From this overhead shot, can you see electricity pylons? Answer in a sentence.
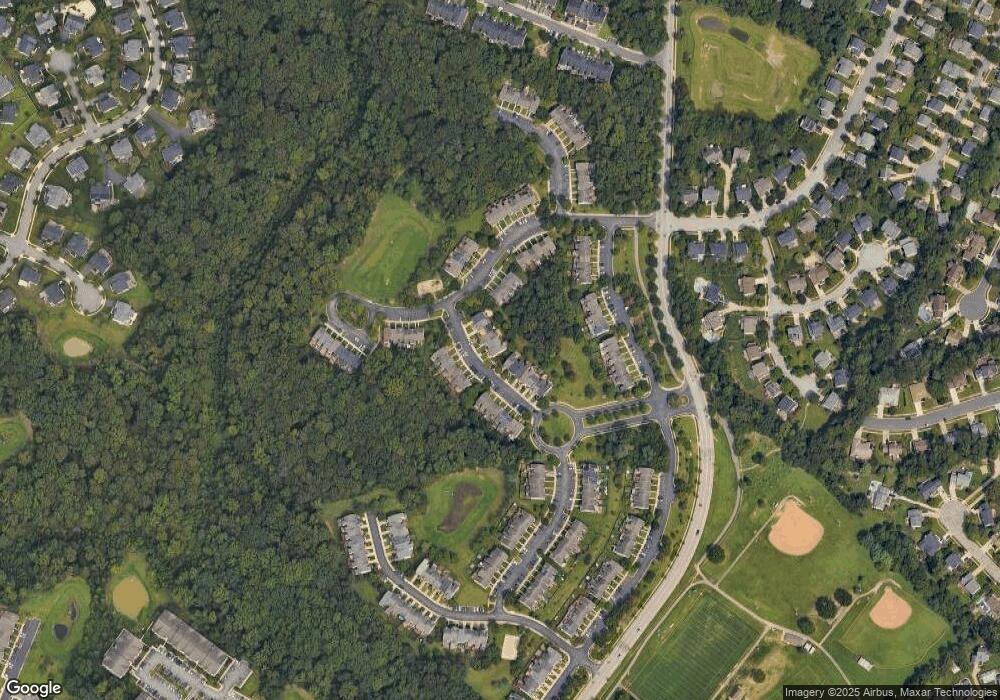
No, no electricity pylon is visible in the view.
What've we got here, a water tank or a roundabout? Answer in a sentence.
It is a roundabout that can be seen here.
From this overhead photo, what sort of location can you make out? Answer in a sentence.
The area seen from above is a residential area.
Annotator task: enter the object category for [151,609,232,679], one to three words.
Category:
building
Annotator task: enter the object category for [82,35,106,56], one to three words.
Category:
house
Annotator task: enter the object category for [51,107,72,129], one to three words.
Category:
house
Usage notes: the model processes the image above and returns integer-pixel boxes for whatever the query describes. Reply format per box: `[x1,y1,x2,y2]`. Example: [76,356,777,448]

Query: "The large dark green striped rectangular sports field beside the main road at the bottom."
[610,587,765,700]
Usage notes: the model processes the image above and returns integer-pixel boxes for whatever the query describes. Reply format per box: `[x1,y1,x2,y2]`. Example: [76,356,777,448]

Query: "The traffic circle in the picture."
[531,404,582,453]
